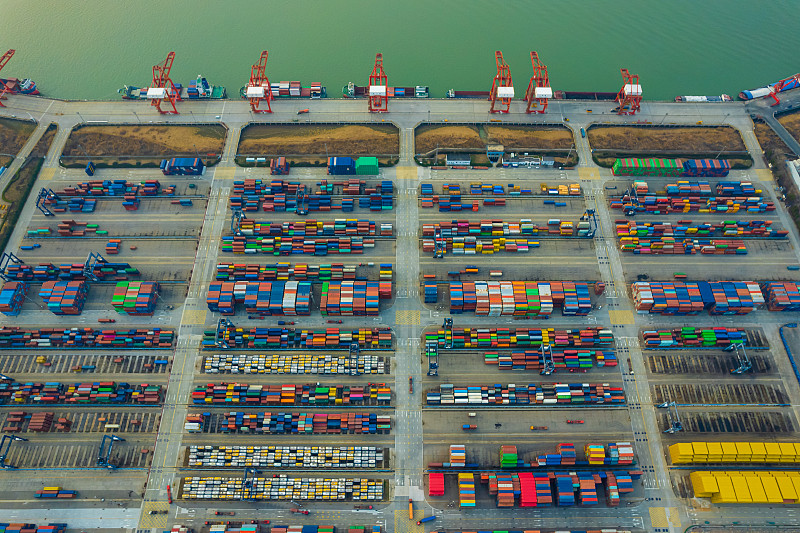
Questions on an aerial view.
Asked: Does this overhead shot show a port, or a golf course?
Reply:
port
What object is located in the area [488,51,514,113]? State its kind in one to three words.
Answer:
container crane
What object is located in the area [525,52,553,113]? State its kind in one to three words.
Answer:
container crane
